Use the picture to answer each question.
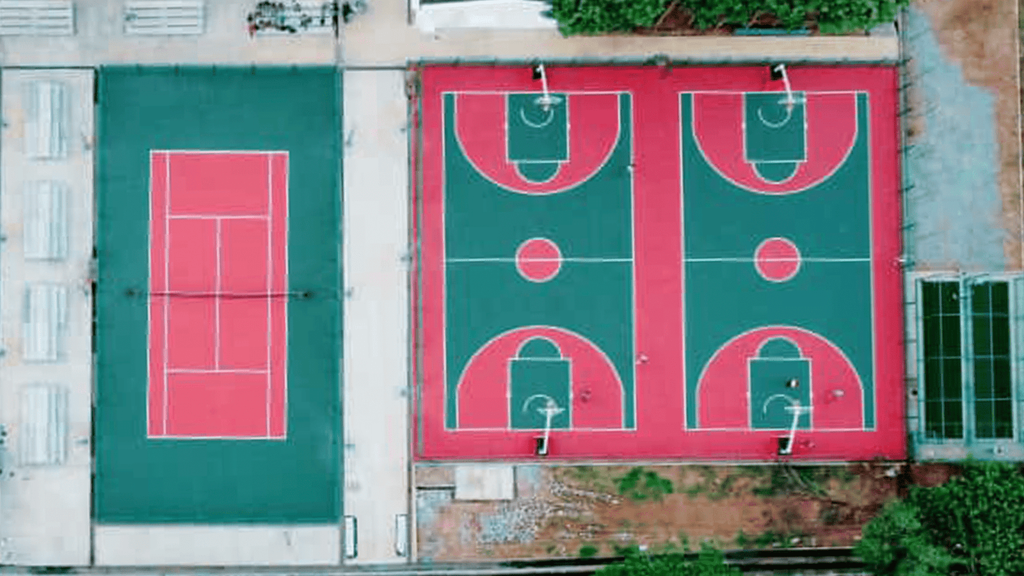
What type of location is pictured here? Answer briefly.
sports ground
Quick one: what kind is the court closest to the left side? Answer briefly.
tennis court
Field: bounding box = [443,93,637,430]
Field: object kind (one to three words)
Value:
basketball court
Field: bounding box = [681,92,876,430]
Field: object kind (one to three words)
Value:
basketball court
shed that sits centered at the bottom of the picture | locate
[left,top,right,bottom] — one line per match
[453,466,512,499]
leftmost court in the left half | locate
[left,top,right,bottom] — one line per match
[95,69,341,525]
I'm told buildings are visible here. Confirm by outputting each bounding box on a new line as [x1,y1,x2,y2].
[453,466,512,499]
[424,0,564,43]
